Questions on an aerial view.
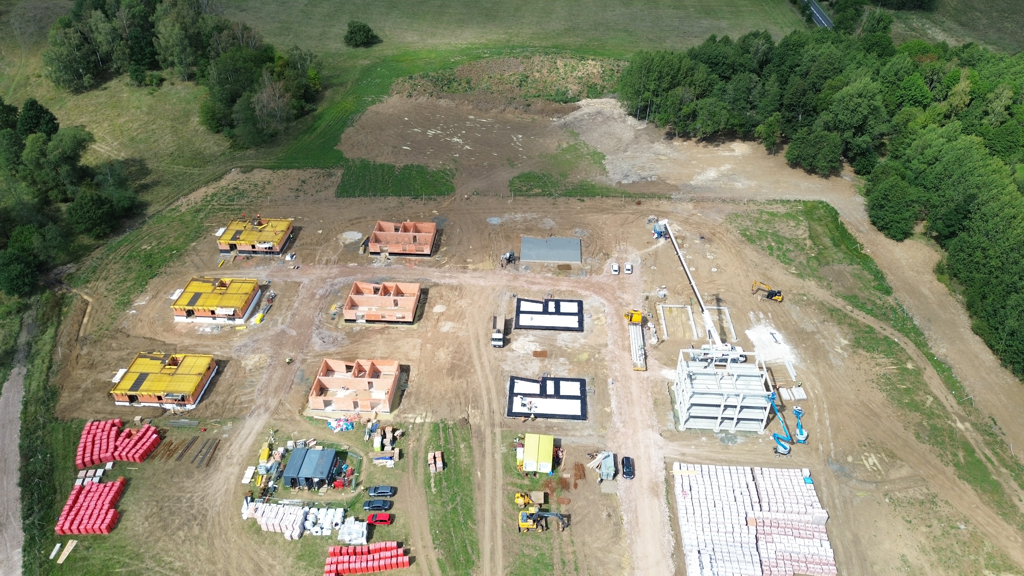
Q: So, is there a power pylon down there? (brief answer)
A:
No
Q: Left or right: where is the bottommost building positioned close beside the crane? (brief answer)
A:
right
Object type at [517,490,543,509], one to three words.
vehicle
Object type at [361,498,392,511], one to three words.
vehicle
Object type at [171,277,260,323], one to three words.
house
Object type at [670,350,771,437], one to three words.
building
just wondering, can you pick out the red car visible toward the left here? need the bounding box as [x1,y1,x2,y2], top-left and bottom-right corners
[366,510,394,525]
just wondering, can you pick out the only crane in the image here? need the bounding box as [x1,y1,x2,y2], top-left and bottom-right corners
[639,223,756,365]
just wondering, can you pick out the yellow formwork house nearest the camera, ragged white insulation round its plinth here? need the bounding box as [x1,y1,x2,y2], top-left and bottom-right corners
[110,352,217,410]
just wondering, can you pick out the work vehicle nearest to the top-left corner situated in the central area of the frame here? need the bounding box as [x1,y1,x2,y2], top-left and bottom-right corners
[501,250,515,268]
